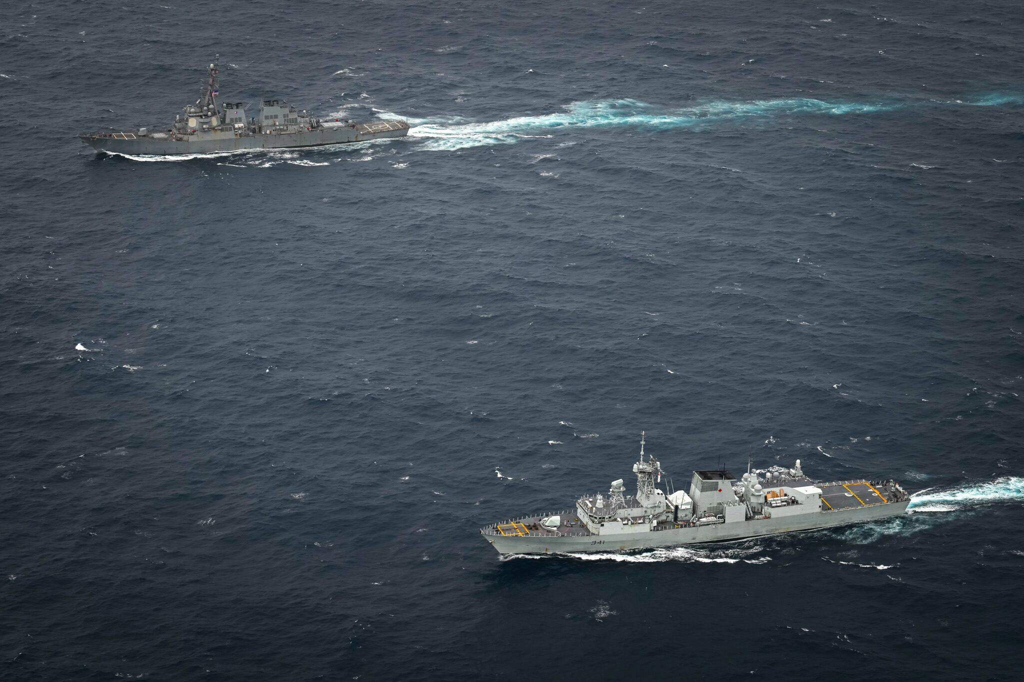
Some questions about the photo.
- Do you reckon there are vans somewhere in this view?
No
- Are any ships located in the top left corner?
Yes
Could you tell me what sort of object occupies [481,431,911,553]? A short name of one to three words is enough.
ship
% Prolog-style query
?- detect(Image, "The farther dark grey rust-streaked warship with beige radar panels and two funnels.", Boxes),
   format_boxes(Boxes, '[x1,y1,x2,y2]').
[81,56,411,155]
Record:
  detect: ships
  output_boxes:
[481,431,911,553]
[81,56,411,155]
